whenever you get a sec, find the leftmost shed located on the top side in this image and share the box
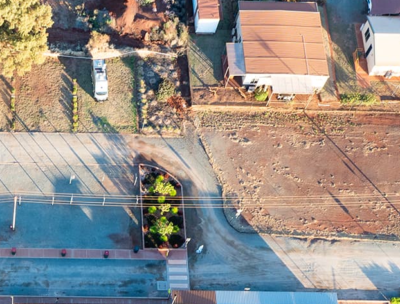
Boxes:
[193,0,220,35]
